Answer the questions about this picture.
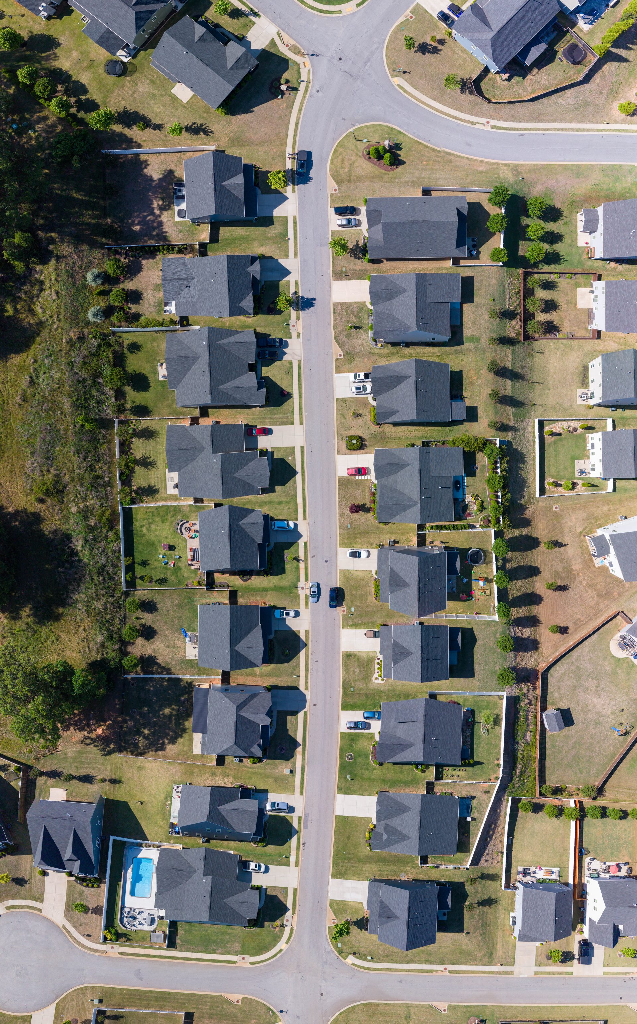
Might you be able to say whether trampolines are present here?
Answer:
Yes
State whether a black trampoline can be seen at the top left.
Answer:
Yes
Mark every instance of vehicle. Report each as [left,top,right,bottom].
[347,720,367,729]
[309,582,319,603]
[328,587,339,608]
[296,151,307,178]
[436,9,455,30]
[334,205,356,216]
[362,629,379,639]
[274,609,295,619]
[349,372,372,383]
[247,427,268,437]
[346,467,367,475]
[347,549,368,559]
[361,711,379,720]
[351,384,372,395]
[337,217,358,228]
[258,350,279,360]
[447,2,463,20]
[266,802,289,812]
[257,338,283,348]
[579,938,591,965]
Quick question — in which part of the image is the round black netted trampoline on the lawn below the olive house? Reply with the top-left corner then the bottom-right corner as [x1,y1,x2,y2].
[103,57,124,79]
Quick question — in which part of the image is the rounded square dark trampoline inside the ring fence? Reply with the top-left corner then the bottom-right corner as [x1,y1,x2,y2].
[561,40,586,67]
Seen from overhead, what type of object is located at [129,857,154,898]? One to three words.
swimming pool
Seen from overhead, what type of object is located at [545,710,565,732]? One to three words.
shed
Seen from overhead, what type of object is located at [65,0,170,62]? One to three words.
house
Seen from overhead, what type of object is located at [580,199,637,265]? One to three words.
house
